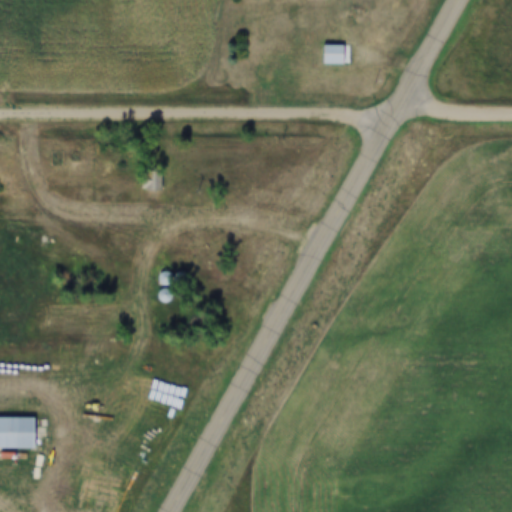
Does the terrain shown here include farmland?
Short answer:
Yes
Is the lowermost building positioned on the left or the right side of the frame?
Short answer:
left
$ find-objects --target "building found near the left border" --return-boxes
[0,417,36,450]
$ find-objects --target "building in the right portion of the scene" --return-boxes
[324,44,345,64]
